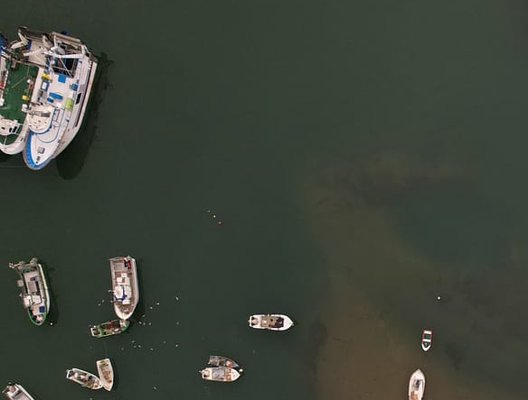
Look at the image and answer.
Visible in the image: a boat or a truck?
boat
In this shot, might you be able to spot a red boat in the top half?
No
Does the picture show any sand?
No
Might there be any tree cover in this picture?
No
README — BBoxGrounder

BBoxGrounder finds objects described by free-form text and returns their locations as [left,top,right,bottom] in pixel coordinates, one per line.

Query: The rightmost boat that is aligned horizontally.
[243,314,293,331]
